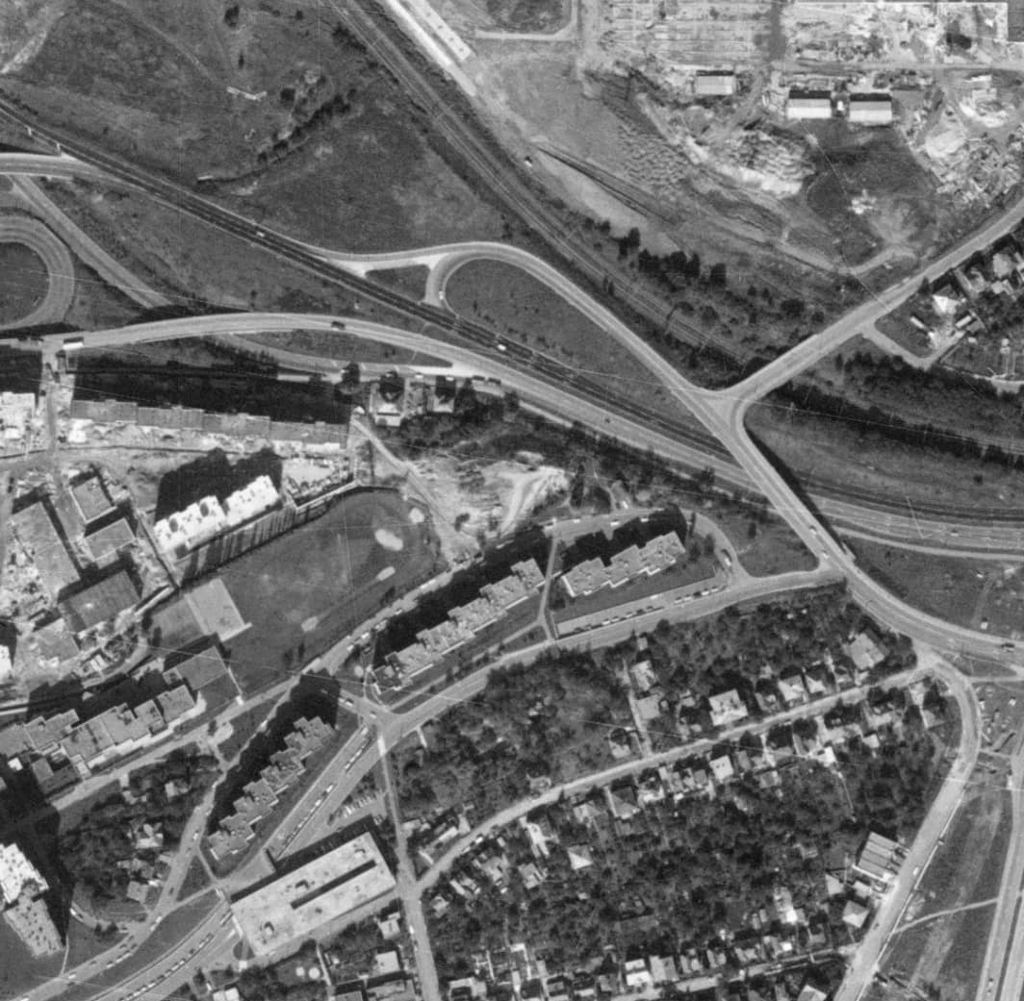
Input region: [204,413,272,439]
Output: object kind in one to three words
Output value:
building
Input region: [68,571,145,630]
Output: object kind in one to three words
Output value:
building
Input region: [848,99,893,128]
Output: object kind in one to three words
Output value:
hangar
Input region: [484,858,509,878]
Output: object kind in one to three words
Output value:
house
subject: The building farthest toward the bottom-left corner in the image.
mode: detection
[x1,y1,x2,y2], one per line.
[4,881,81,958]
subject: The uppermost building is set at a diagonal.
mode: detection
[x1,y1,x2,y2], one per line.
[420,0,469,59]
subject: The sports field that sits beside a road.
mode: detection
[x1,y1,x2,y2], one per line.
[190,489,437,694]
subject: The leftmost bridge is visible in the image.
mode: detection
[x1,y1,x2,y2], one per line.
[0,311,286,351]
